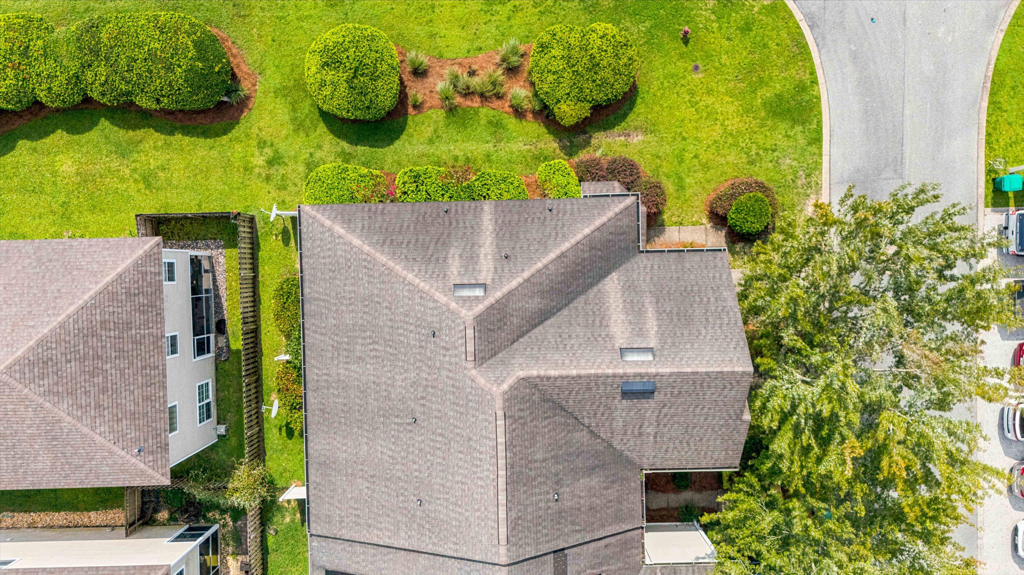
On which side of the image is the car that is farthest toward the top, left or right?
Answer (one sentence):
The car that is farthest toward the top is on the right side of the image.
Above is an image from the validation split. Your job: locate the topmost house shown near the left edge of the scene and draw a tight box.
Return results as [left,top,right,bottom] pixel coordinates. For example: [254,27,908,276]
[0,234,218,490]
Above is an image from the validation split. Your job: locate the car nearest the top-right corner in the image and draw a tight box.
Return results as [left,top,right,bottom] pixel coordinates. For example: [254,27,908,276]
[1003,214,1024,255]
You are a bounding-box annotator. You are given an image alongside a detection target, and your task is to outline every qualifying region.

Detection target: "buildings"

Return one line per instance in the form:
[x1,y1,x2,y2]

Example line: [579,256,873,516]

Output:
[0,234,218,490]
[0,524,222,575]
[296,181,773,575]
